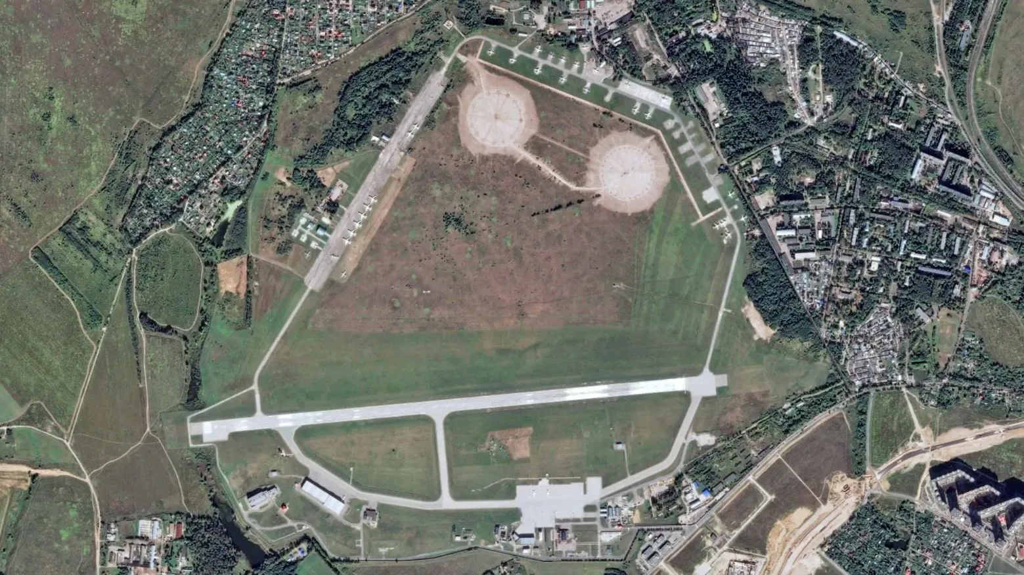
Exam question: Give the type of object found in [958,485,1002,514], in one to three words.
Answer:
building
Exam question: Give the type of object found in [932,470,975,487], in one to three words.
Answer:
building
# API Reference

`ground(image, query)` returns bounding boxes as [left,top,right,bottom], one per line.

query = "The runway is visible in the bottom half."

[203,377,686,441]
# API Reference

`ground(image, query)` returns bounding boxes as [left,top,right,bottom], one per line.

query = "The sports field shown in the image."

[938,309,960,371]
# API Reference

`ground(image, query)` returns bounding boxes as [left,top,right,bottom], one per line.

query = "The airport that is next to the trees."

[188,24,741,559]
